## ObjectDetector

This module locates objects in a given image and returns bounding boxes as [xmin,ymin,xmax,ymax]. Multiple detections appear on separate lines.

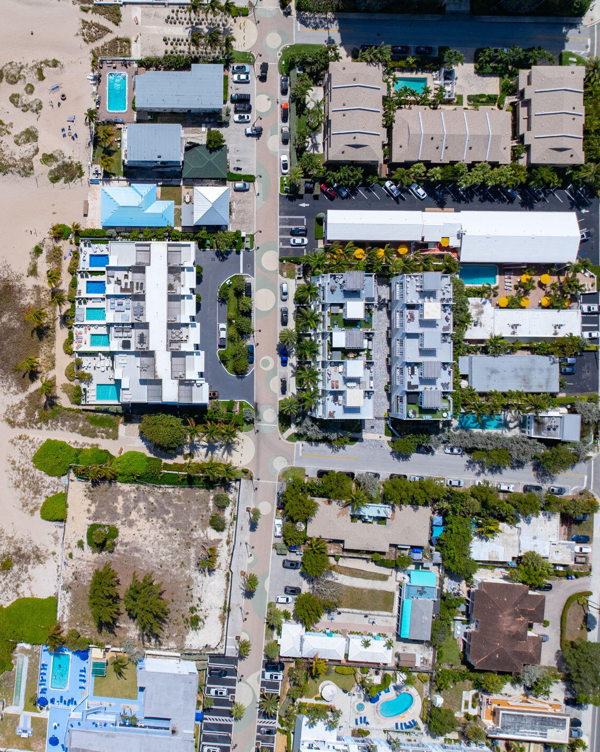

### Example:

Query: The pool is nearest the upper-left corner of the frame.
[106,70,128,112]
